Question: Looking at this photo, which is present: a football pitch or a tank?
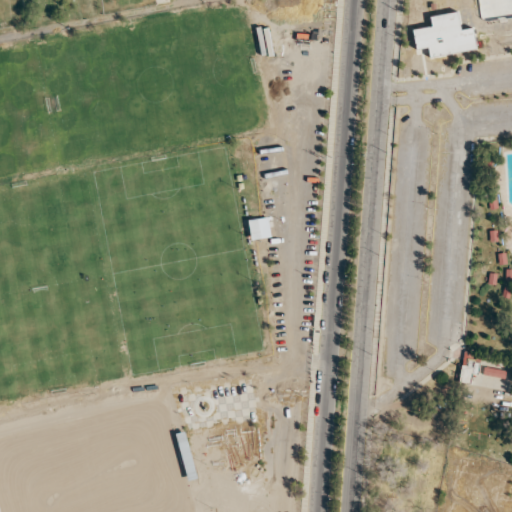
football pitch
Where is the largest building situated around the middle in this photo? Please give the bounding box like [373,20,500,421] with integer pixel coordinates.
[250,216,274,240]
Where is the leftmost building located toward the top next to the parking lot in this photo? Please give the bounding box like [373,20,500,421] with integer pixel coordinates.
[414,11,478,58]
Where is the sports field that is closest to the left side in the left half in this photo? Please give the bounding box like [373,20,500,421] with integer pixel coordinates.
[0,169,131,398]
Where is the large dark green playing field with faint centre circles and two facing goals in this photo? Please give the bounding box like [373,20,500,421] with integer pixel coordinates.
[0,8,267,180]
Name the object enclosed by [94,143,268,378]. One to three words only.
soccer field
